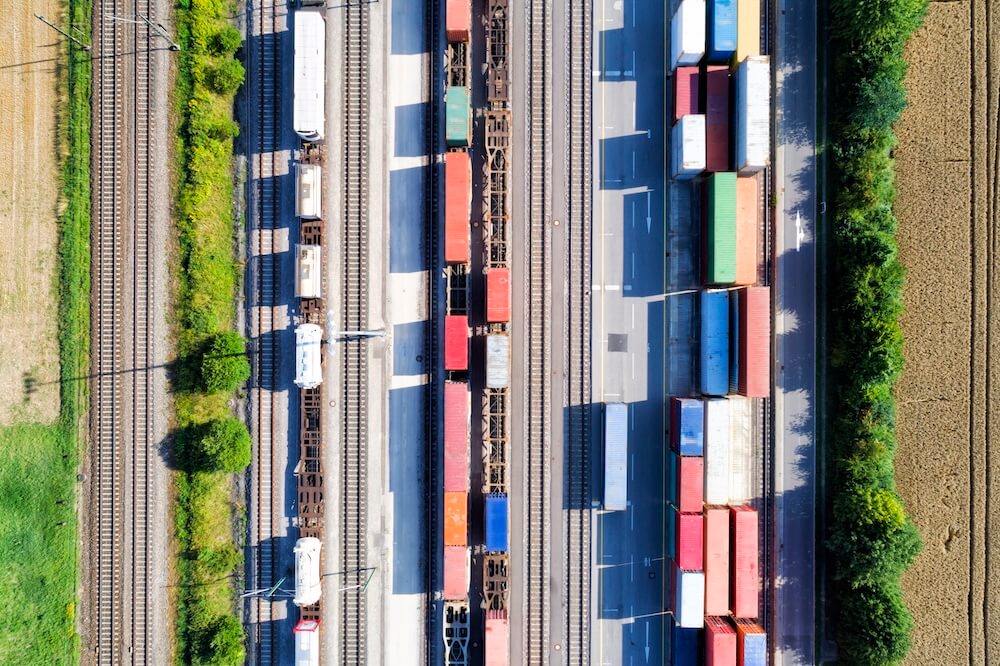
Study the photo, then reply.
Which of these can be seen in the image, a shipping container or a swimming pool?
shipping container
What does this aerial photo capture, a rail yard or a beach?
rail yard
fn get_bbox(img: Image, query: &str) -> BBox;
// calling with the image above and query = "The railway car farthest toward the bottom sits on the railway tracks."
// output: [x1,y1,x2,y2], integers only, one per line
[444,604,469,666]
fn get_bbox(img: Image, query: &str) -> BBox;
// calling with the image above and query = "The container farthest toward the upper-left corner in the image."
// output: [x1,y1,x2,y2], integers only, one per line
[296,165,325,222]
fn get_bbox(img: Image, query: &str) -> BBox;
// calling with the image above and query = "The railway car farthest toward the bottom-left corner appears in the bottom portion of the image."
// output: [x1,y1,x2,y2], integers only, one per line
[295,522,320,625]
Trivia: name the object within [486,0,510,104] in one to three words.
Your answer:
rail car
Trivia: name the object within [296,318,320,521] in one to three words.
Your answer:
rail car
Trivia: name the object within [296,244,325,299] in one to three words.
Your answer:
shipping container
